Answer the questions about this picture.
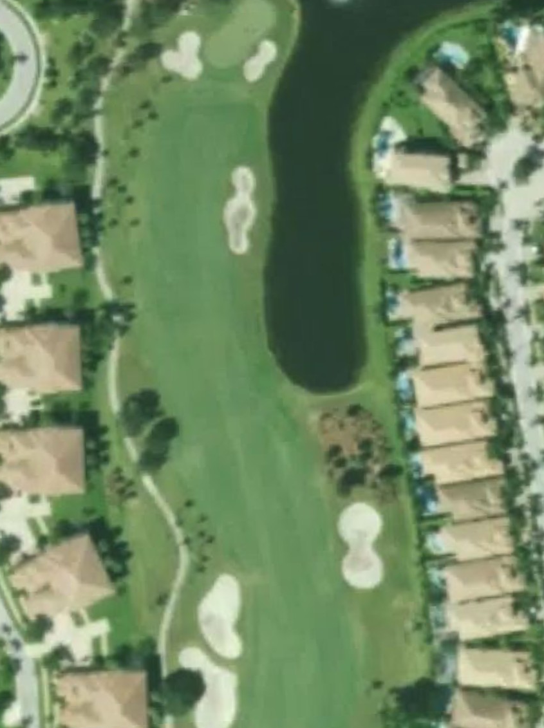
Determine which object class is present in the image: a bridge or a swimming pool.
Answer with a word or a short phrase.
swimming pool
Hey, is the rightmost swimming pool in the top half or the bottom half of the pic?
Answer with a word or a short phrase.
top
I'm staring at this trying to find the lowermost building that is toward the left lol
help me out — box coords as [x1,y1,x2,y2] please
[62,671,151,728]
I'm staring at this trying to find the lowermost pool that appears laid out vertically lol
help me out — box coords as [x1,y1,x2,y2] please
[436,642,457,682]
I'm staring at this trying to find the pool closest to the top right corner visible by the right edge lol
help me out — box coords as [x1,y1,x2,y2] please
[499,23,529,61]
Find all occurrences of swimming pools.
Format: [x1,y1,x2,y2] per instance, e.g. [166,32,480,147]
[402,412,417,440]
[499,23,529,61]
[377,192,394,229]
[387,286,407,322]
[411,452,424,477]
[436,642,457,682]
[416,486,439,515]
[395,327,414,358]
[375,118,406,180]
[434,43,469,69]
[397,372,416,400]
[427,569,446,600]
[426,530,446,555]
[389,238,408,269]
